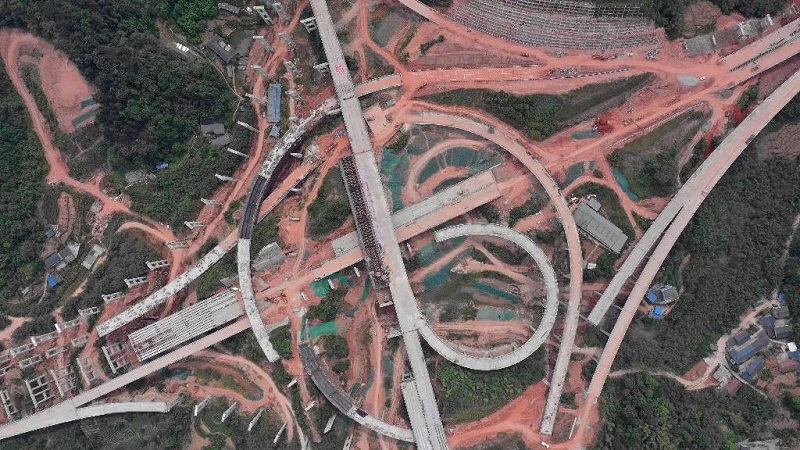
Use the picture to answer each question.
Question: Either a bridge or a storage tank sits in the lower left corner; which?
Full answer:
The feature located in the lower left corner is a bridge.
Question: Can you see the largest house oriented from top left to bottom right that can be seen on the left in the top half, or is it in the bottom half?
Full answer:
It is in the top half that the largest house oriented from top left to bottom right that can be seen on the left appears.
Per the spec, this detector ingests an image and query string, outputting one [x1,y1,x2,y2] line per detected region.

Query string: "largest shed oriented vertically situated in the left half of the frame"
[266,84,282,123]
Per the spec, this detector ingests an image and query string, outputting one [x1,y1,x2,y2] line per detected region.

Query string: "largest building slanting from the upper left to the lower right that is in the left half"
[209,35,240,64]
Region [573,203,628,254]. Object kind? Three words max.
building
